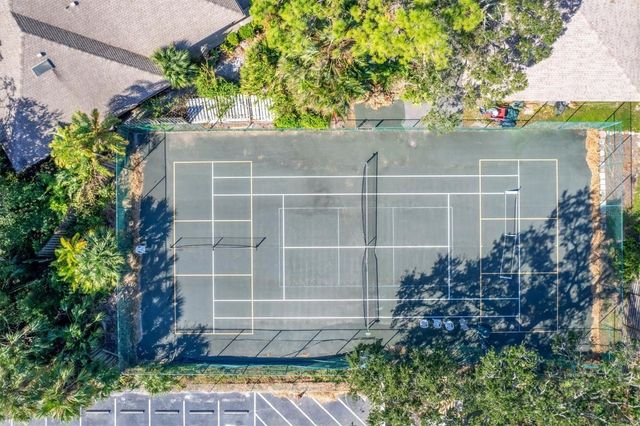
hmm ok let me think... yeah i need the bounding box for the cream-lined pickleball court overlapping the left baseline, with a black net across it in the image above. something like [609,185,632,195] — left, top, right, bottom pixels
[174,161,254,335]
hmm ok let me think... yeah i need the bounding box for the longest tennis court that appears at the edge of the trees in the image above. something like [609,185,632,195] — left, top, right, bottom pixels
[132,130,600,363]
